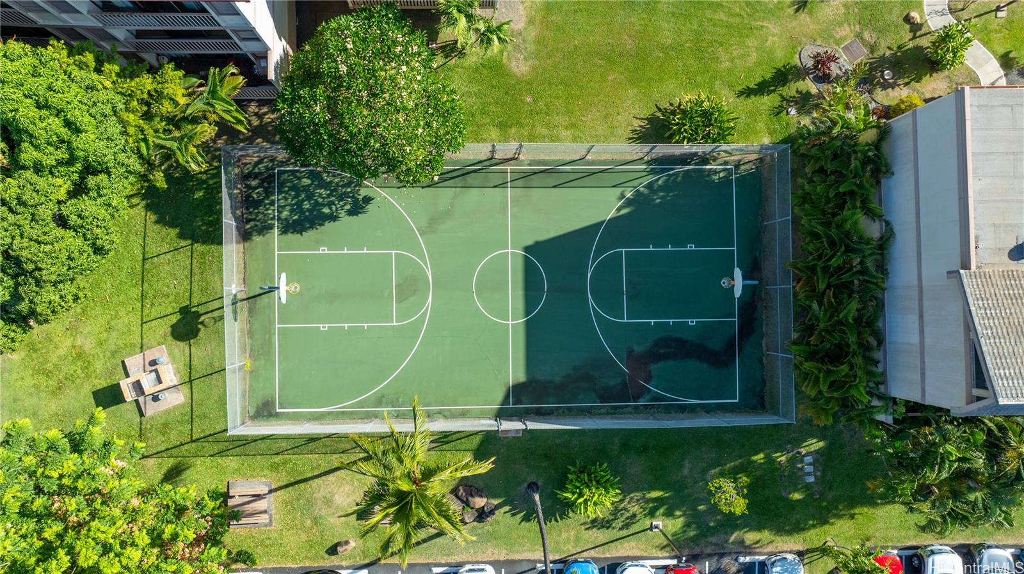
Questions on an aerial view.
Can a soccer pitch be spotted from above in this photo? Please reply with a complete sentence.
No, no soccer pitch is visible in the view.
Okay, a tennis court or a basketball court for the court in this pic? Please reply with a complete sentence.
Looking closely, the court is a basketball court.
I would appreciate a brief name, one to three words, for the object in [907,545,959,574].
car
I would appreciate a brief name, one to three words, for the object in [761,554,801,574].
car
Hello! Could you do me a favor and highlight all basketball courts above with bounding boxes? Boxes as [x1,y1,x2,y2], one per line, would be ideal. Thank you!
[249,161,764,420]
